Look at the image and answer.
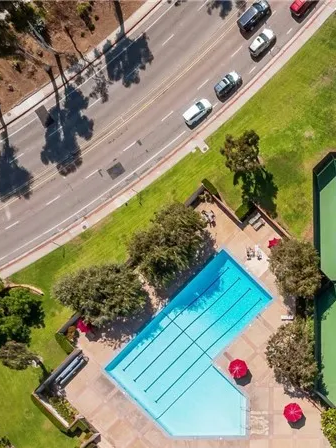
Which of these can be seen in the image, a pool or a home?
pool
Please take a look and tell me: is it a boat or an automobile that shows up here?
automobile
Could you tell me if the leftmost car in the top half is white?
Yes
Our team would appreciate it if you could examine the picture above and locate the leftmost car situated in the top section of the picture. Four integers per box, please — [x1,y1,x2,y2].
[181,99,212,127]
